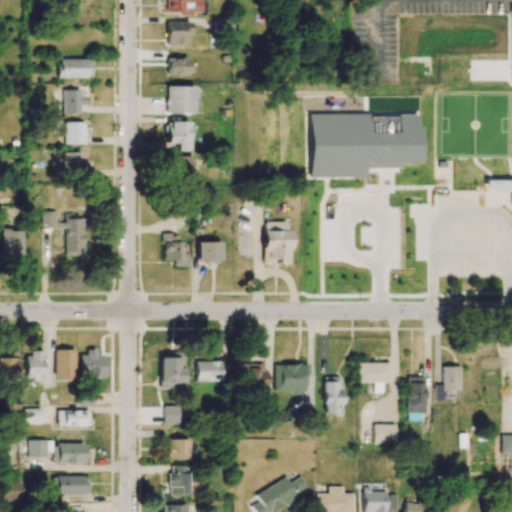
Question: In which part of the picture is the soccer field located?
top right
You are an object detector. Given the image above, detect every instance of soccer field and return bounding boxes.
[438,91,512,158]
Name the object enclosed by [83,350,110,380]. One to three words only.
house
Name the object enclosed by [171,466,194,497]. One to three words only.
house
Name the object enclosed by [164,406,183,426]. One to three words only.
building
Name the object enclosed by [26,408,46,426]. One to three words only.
building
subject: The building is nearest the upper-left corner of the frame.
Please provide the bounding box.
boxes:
[60,58,96,79]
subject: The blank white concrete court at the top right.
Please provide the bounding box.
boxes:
[468,60,512,82]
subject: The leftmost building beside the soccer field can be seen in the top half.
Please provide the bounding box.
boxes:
[311,114,430,176]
